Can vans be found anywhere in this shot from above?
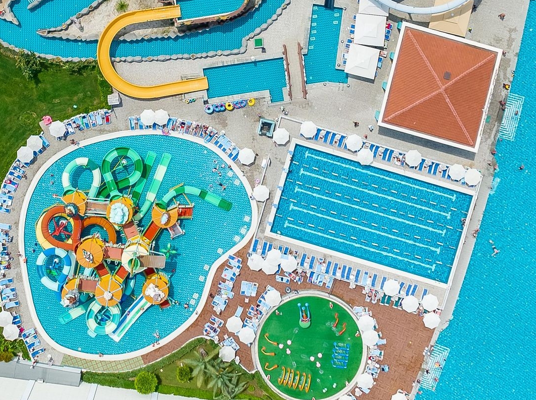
No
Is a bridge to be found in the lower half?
No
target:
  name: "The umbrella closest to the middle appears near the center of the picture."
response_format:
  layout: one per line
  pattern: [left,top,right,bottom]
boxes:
[251,183,268,200]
